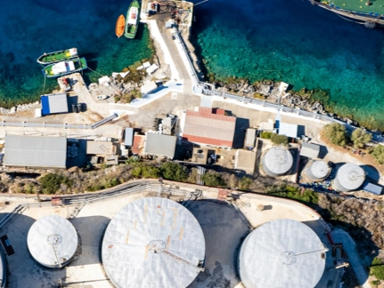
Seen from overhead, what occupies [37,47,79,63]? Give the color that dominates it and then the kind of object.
green boat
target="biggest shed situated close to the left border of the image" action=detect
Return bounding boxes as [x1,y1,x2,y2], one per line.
[4,136,67,169]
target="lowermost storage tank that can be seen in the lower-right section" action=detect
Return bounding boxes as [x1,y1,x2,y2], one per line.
[239,218,327,288]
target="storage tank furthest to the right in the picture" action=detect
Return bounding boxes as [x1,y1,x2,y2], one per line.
[333,162,366,193]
